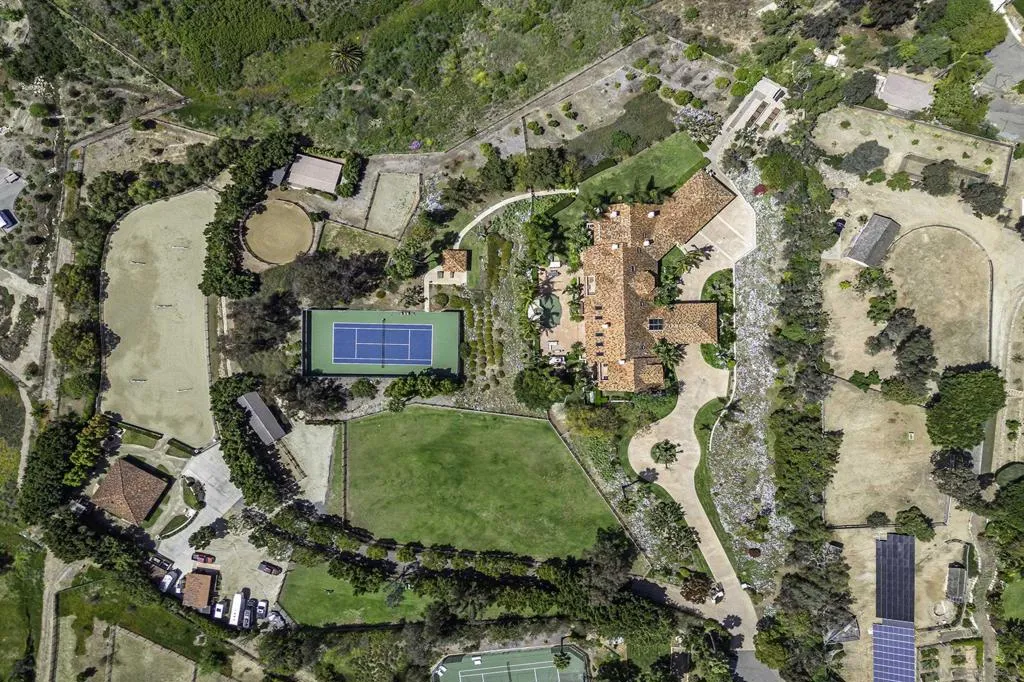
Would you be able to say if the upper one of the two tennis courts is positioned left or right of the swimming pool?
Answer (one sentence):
Looking at the picture, you'll find the upper one of the two tennis courts to the left of the swimming pool.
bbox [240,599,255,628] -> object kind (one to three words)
vehicle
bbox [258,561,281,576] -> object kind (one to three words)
car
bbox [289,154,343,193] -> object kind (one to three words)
building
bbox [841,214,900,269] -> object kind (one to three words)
barn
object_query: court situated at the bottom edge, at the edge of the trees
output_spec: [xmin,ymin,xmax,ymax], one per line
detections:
[431,642,593,682]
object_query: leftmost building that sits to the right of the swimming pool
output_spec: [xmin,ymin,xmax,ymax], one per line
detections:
[583,167,737,392]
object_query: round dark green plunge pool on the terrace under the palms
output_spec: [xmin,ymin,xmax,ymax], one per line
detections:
[534,293,561,329]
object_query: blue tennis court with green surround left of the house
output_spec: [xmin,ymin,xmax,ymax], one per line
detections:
[303,310,461,377]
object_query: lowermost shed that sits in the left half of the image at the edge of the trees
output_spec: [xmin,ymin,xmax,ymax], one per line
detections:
[183,571,214,616]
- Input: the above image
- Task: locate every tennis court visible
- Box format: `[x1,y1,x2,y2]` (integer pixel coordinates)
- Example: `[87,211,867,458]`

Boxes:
[431,642,593,682]
[303,310,461,377]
